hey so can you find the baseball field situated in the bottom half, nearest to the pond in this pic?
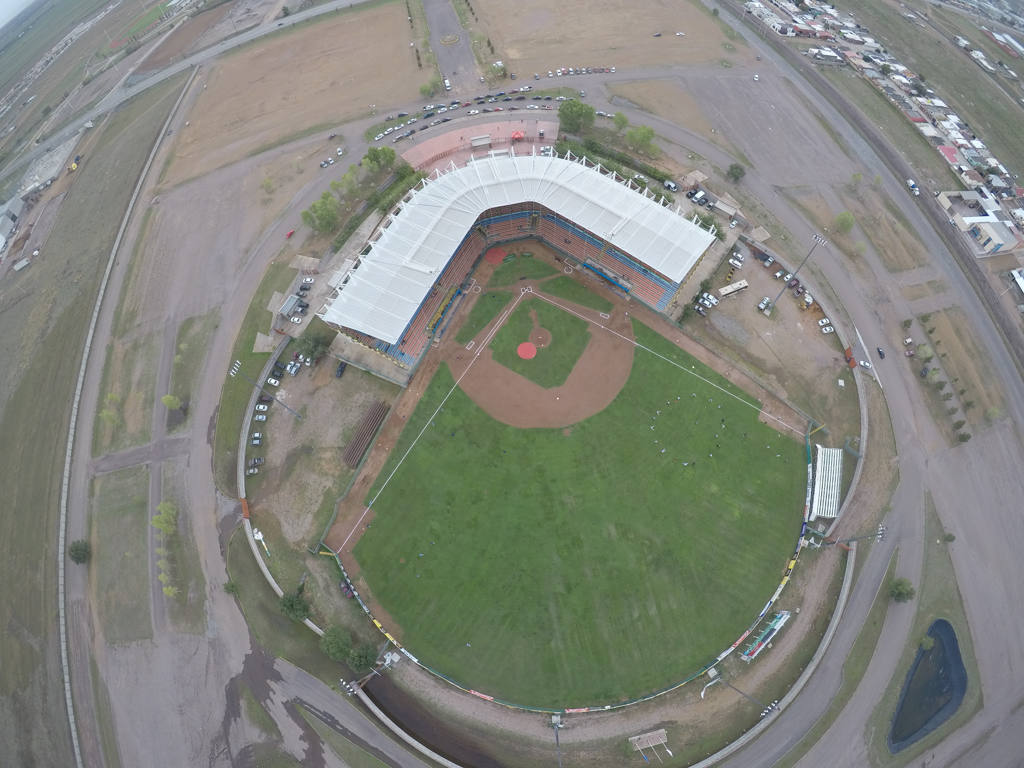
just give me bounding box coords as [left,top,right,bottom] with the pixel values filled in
[321,240,809,709]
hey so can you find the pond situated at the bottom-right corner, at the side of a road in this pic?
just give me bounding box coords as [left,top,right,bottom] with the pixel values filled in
[887,618,968,755]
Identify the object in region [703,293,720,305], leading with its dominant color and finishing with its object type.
white vehicle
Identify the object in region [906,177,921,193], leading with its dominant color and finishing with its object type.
white vehicle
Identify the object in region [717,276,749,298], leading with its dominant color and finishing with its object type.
white bus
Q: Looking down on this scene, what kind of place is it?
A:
sports ground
